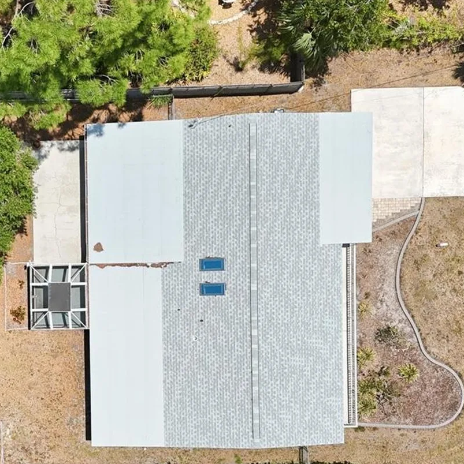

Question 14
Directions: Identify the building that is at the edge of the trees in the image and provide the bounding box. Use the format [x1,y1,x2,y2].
[85,107,373,449]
